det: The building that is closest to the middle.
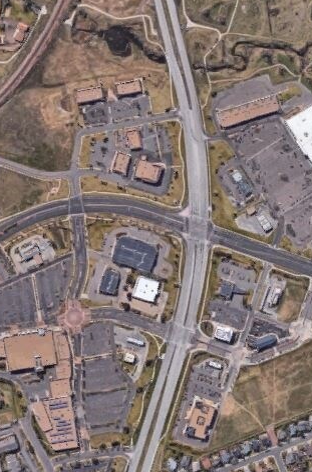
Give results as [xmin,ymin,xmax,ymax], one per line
[112,237,160,273]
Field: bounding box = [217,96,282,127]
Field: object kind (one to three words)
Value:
building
